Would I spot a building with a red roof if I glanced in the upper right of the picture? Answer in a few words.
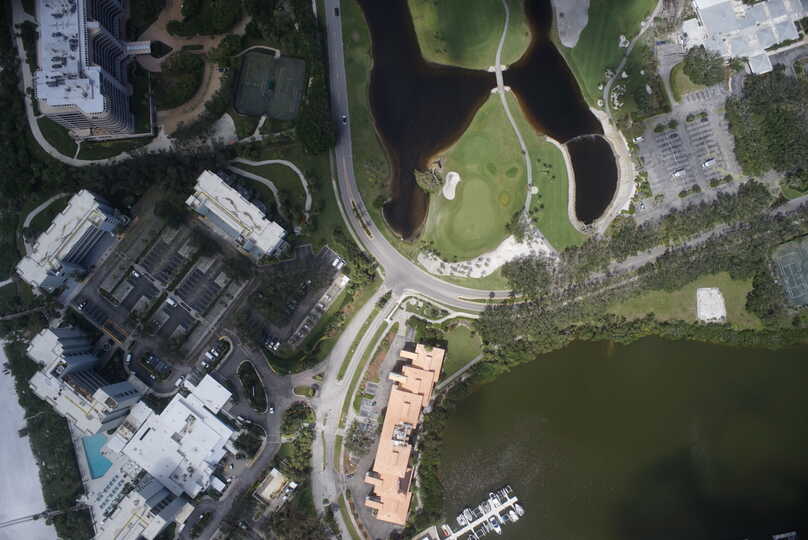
No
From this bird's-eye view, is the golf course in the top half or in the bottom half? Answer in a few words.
top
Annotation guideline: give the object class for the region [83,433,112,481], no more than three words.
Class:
swimming pool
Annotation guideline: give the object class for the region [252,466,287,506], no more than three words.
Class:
building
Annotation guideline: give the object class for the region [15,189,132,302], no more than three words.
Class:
building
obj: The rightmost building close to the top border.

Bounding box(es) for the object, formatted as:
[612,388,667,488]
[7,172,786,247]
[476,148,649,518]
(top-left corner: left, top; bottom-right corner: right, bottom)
[678,0,808,73]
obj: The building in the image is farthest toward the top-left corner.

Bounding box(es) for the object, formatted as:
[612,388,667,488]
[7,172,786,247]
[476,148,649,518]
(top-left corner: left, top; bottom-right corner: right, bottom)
[35,0,152,141]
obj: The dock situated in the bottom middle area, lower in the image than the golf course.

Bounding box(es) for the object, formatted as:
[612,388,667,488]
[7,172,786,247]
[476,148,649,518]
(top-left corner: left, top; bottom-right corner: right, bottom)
[437,486,520,540]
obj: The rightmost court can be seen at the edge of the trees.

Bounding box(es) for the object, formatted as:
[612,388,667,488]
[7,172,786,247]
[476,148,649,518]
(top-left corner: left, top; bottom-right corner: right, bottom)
[773,238,808,306]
